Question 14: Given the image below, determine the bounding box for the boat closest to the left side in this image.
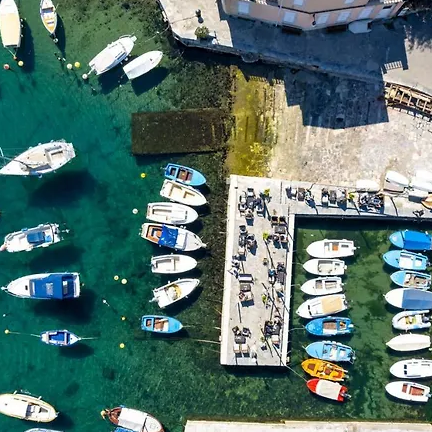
[0,0,23,51]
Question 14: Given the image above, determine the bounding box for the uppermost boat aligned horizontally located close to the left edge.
[0,141,80,176]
